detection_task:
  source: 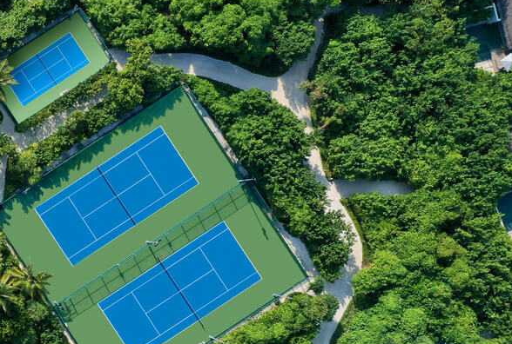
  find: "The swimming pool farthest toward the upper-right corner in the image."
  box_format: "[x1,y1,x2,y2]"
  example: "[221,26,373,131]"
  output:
[467,15,505,64]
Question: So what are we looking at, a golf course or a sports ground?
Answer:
sports ground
